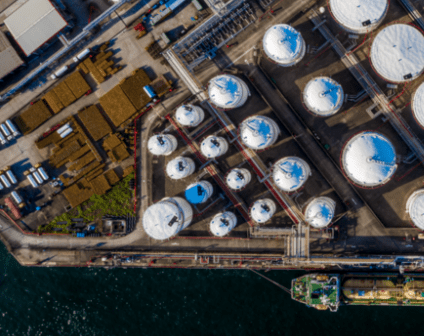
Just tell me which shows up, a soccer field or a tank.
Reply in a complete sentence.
The one in the frame is a tank.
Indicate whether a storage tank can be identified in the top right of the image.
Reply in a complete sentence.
Yes, a storage tank appears in the top right of the image.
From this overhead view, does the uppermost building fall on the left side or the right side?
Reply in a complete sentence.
The uppermost building sits on the left side.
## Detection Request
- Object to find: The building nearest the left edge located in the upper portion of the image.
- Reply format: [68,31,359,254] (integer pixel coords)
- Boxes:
[0,26,33,92]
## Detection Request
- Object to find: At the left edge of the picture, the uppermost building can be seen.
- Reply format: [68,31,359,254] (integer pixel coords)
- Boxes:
[4,0,77,59]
